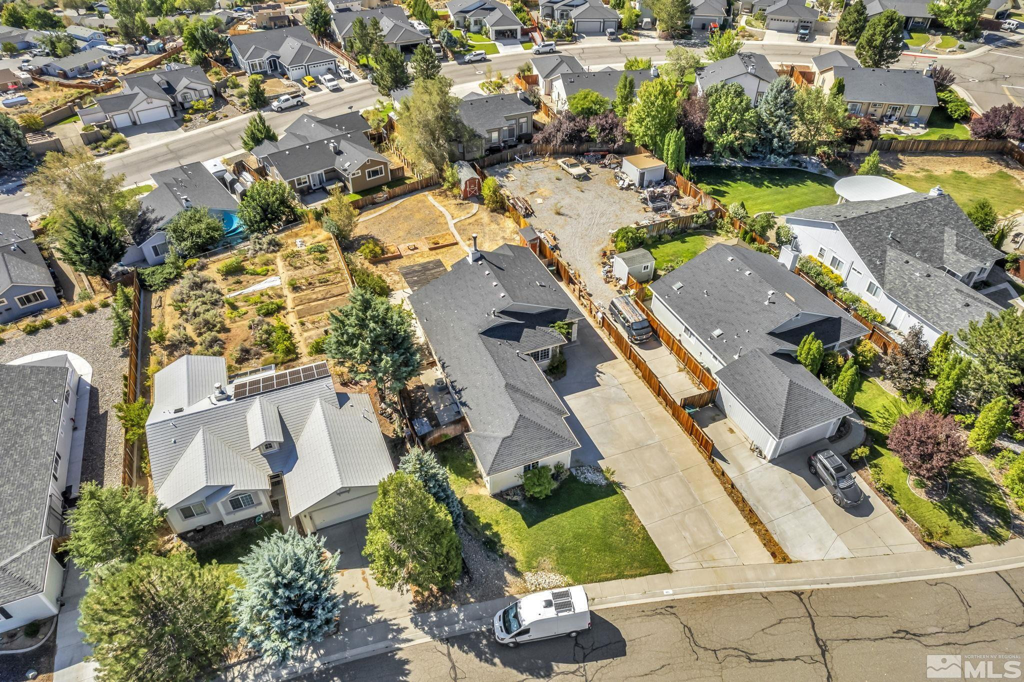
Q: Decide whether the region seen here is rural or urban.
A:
urban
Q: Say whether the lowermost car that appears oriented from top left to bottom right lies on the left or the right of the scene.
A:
right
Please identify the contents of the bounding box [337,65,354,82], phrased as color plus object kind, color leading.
white car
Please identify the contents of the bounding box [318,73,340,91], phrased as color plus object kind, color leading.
white vehicle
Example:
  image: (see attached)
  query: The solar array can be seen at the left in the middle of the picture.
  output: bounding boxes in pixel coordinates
[221,359,330,400]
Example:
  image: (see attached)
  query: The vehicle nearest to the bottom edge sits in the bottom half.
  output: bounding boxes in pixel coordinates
[489,582,594,648]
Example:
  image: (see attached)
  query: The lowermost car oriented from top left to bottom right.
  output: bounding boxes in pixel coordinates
[810,450,868,511]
